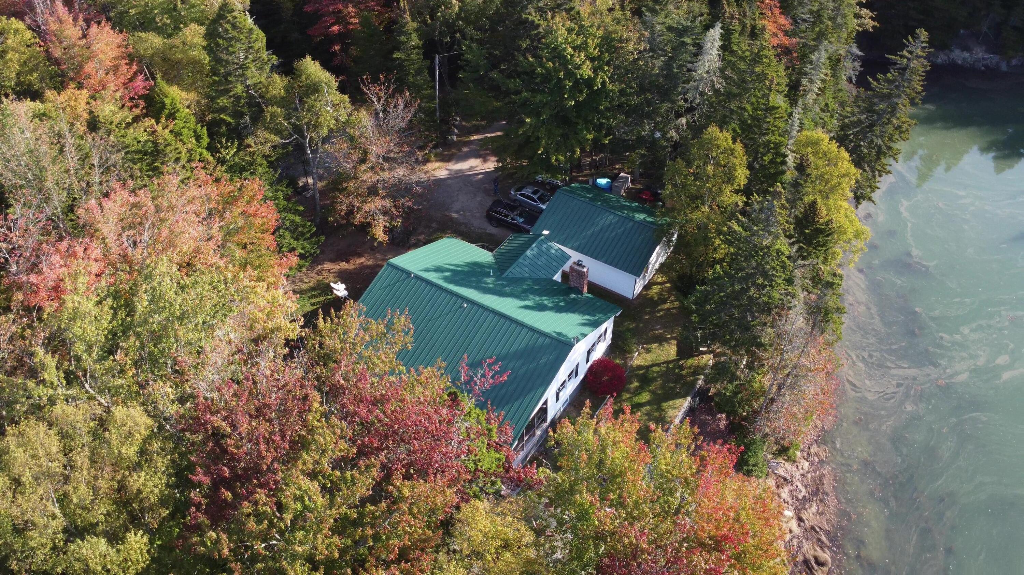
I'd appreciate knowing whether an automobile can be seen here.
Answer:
Yes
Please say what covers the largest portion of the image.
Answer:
trees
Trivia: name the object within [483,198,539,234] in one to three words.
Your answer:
car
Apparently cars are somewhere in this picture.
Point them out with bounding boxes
[483,198,539,234]
[506,181,554,209]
